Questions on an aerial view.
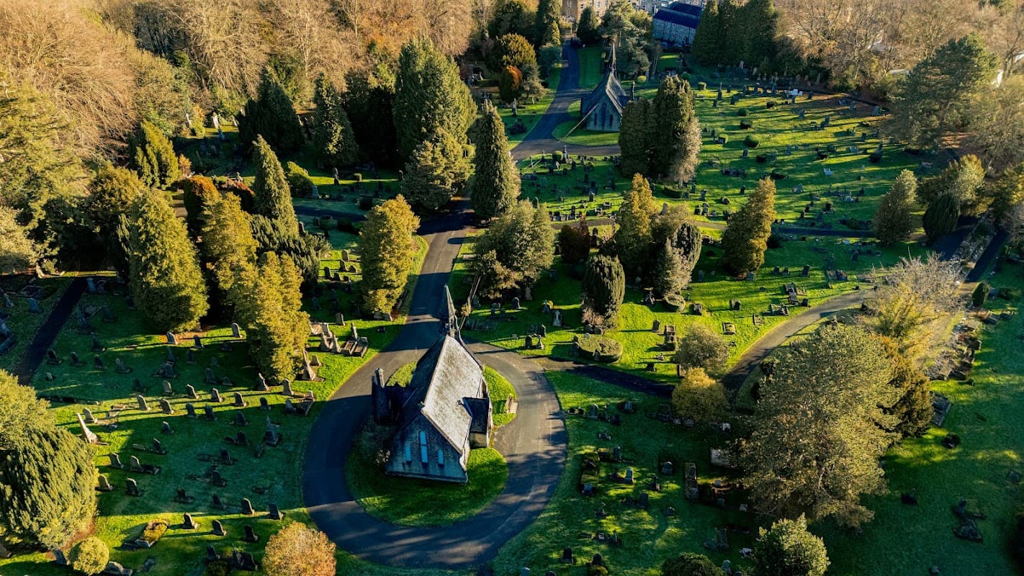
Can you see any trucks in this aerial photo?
No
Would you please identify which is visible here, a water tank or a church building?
church building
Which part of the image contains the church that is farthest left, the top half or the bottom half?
bottom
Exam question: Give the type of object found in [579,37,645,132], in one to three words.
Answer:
building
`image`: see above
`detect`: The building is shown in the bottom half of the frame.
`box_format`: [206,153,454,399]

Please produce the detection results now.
[365,277,499,485]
